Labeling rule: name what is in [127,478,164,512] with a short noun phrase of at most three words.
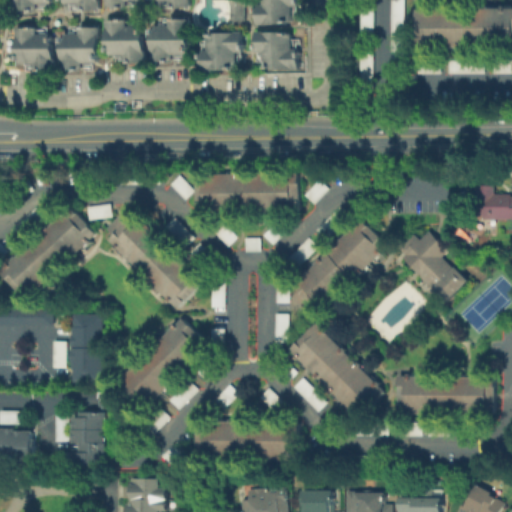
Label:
house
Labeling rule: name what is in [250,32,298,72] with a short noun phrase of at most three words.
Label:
house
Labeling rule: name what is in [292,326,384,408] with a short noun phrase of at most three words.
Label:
building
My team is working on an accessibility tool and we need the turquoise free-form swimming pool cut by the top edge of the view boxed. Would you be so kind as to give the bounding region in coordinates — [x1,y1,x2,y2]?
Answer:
[194,0,230,28]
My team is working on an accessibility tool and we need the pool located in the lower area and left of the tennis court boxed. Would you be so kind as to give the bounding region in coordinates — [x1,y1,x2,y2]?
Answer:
[371,282,426,342]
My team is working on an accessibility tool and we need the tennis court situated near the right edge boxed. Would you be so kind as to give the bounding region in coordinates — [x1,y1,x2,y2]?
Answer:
[454,266,512,345]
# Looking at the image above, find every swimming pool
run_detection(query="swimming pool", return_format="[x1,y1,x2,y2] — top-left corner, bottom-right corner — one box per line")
[371,282,426,342]
[194,0,230,28]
